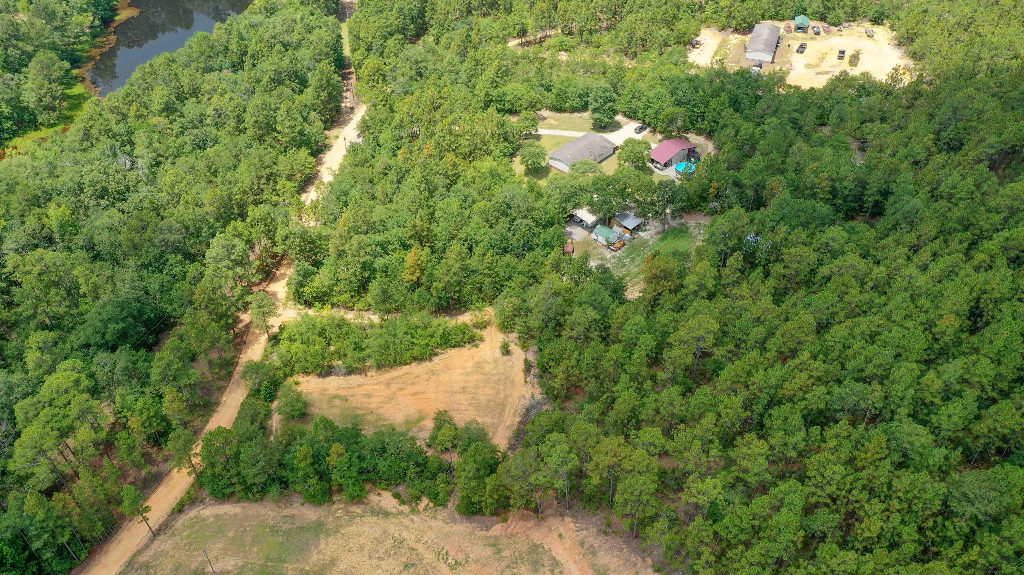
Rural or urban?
rural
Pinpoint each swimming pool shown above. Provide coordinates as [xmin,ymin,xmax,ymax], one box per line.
[674,159,697,174]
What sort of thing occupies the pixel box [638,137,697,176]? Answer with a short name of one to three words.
barn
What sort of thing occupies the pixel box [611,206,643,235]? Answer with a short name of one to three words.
barn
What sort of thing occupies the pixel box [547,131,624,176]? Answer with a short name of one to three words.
house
